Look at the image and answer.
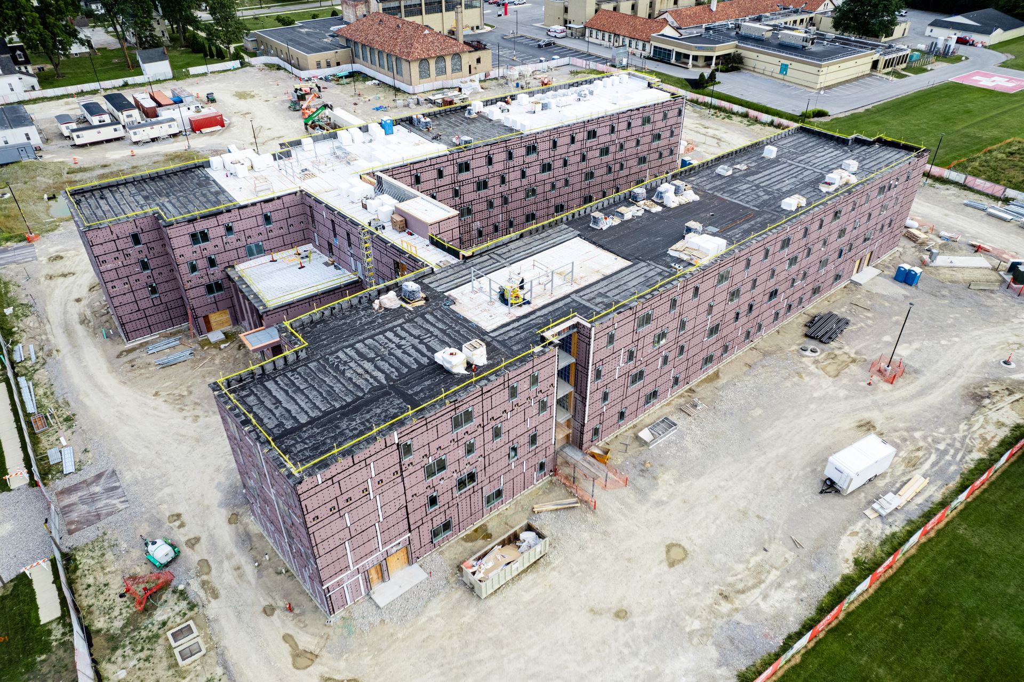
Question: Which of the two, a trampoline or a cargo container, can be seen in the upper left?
cargo container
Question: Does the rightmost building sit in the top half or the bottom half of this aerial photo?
top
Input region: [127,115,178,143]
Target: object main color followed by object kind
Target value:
white trailer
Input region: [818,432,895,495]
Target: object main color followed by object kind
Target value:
white trailer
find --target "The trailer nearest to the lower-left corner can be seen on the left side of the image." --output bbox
[136,530,184,565]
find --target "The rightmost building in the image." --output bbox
[926,4,1024,46]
